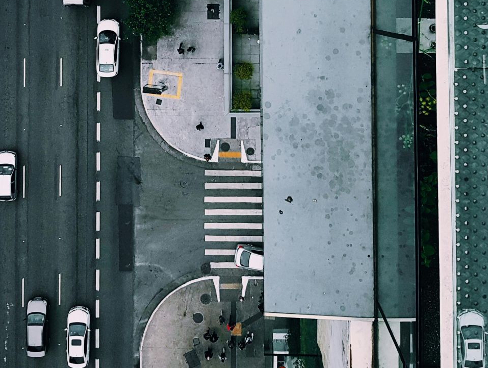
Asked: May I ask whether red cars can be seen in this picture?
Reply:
No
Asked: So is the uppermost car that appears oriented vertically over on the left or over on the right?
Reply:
left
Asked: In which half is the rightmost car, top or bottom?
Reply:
bottom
